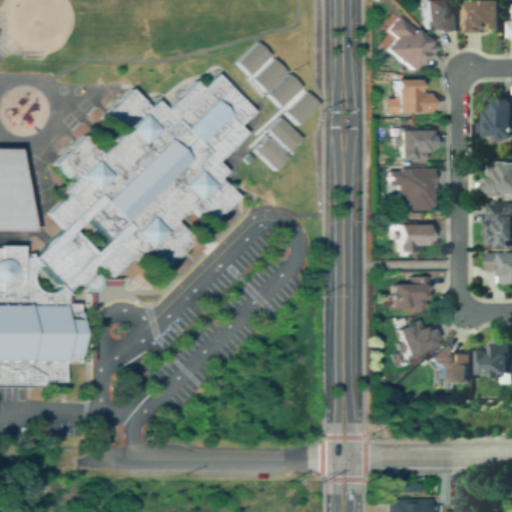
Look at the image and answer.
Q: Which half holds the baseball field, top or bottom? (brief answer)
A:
top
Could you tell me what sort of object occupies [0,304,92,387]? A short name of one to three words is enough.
building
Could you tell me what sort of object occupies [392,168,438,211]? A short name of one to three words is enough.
house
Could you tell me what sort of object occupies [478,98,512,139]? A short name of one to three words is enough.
house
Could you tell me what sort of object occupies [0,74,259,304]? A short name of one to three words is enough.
building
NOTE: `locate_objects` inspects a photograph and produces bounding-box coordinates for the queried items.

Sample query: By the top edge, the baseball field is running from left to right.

[0,0,296,70]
